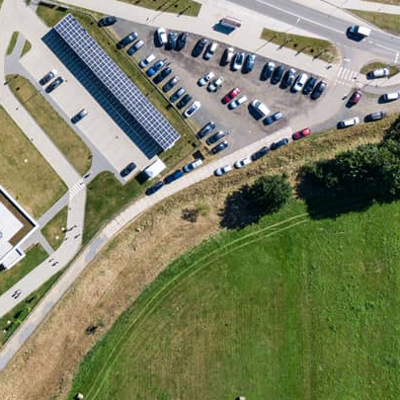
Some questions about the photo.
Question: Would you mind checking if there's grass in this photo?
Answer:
Yes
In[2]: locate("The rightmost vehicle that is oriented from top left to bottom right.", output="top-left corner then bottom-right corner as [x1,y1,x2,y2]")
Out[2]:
[249,98,271,119]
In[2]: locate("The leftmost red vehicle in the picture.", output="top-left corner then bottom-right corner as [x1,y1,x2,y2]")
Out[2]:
[223,88,239,102]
